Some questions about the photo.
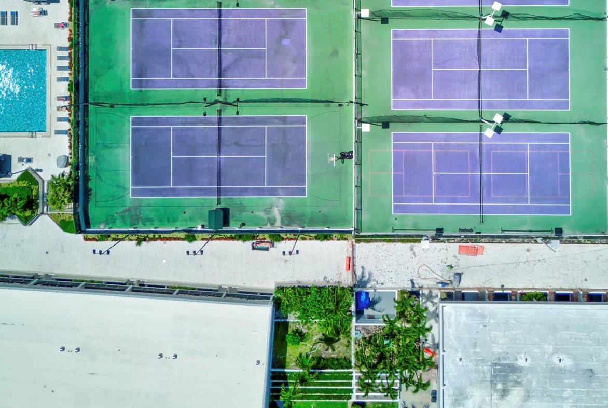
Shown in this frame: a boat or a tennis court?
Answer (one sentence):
Of the two, only a tennis court appears.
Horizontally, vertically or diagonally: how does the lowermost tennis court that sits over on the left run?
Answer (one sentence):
What the image shows is the lowermost tennis court that sits over on the left lying horizontally.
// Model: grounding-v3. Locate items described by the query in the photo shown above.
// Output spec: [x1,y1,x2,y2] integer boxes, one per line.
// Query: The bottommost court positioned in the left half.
[95,107,340,207]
